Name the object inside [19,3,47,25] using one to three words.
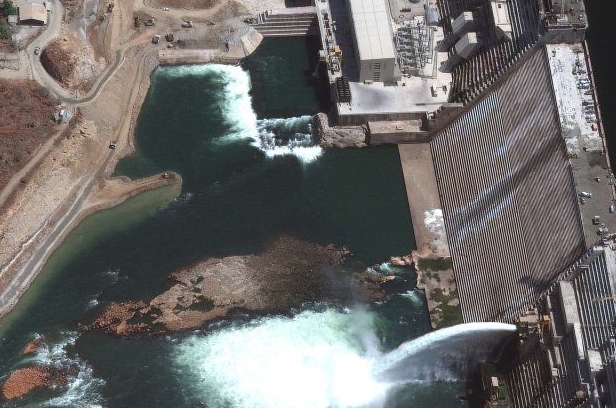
building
